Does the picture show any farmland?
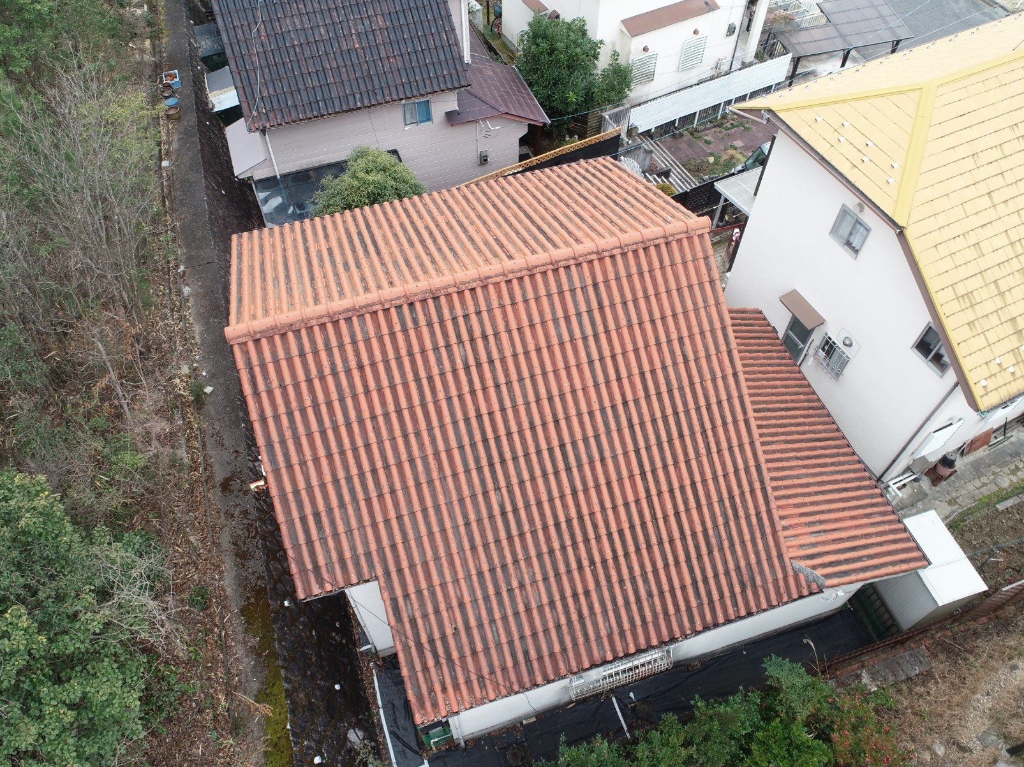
No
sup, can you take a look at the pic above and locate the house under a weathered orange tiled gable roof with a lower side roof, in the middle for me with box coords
[221,155,925,747]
